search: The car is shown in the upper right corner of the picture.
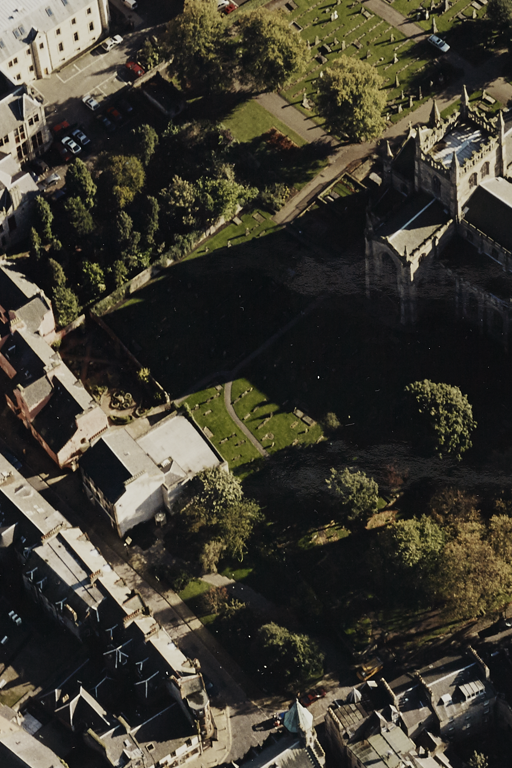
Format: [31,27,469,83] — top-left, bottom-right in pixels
[430,33,449,50]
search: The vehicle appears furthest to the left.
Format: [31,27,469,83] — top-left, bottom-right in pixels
[2,450,24,472]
